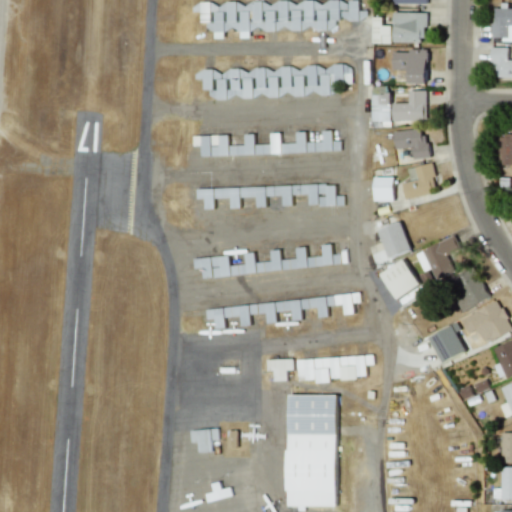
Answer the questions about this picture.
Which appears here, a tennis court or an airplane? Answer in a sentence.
The image shows an airplane.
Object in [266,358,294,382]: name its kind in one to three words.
hangar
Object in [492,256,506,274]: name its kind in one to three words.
vehicle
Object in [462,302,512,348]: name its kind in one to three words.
house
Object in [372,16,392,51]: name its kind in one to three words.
building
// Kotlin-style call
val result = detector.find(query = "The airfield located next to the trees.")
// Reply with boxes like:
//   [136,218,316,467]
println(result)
[51,0,403,512]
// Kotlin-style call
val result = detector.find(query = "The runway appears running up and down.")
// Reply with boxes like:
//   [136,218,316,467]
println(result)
[51,112,103,512]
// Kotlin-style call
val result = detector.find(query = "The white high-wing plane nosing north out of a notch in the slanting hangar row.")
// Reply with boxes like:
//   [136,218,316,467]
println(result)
[224,248,248,266]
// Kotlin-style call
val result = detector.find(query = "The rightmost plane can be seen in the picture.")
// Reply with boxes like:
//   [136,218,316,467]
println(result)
[370,144,386,164]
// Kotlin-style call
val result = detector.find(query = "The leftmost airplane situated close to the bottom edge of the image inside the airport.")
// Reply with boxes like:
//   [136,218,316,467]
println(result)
[180,492,204,510]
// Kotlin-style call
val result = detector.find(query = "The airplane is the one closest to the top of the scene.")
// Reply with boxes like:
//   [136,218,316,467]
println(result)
[312,34,336,55]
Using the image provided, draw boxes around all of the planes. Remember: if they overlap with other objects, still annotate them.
[312,34,336,55]
[276,314,299,330]
[224,248,248,266]
[262,494,282,512]
[198,321,222,340]
[222,320,246,338]
[180,492,204,510]
[370,144,386,164]
[242,424,266,442]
